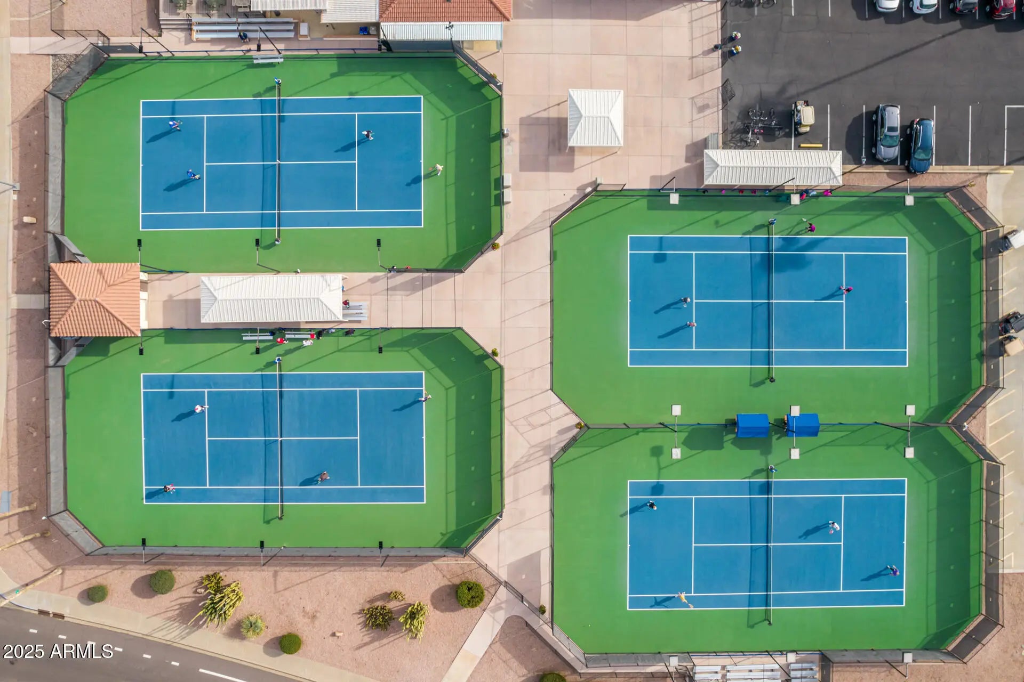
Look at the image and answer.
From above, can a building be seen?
Yes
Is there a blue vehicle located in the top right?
Yes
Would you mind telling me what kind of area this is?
sports ground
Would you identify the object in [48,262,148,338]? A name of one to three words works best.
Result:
building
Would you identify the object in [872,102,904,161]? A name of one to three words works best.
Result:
car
